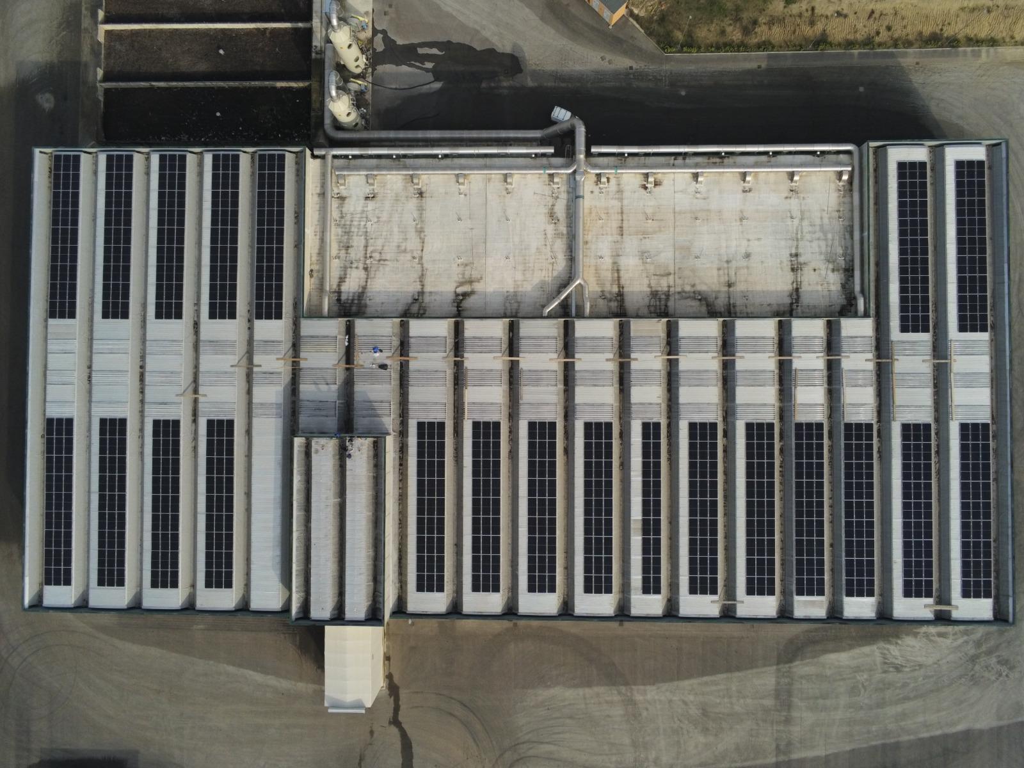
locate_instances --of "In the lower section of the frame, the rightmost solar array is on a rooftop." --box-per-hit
[962,423,993,598]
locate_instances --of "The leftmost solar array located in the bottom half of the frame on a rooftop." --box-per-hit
[42,418,72,585]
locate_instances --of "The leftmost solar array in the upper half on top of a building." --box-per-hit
[48,154,77,318]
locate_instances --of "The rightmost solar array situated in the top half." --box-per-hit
[959,160,990,332]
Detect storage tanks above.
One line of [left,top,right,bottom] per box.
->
[331,4,368,72]
[331,66,368,127]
